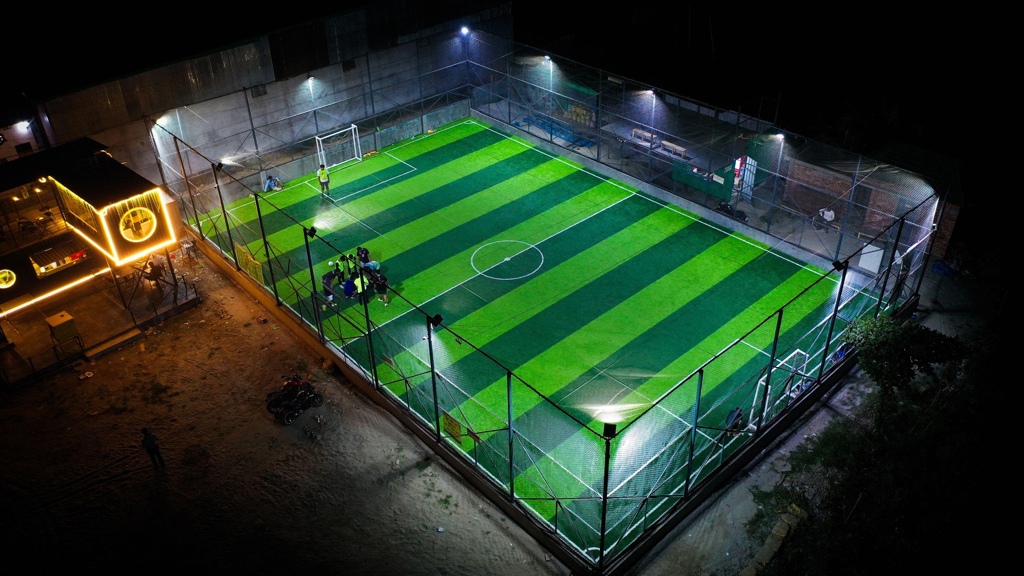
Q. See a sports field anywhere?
Yes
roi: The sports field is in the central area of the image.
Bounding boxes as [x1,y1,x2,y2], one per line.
[185,117,894,566]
